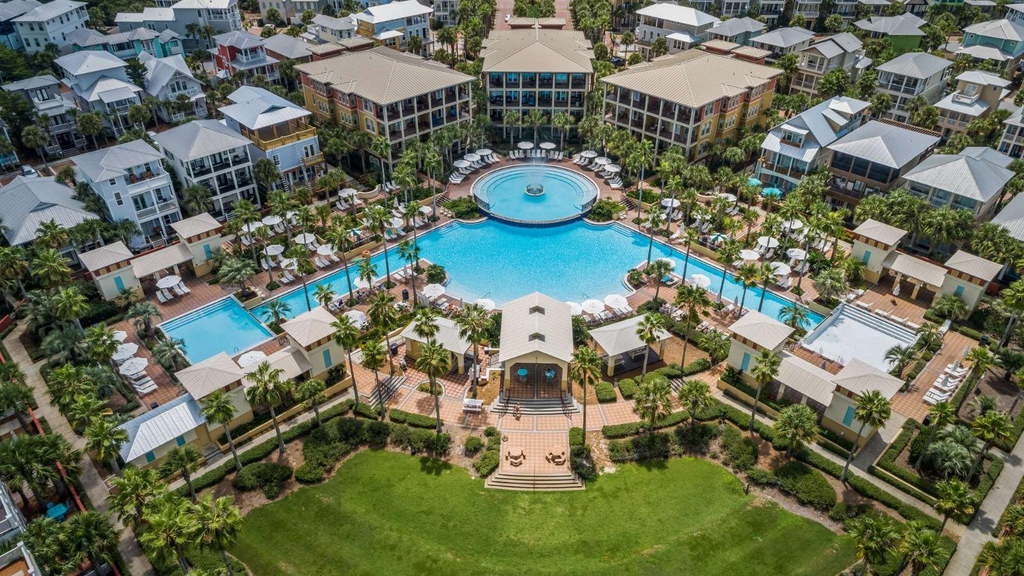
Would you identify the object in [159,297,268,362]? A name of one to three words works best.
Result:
swimming pool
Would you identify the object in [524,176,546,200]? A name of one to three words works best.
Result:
fountain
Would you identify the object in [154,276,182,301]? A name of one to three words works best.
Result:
umbrella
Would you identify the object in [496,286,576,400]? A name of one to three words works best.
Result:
building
